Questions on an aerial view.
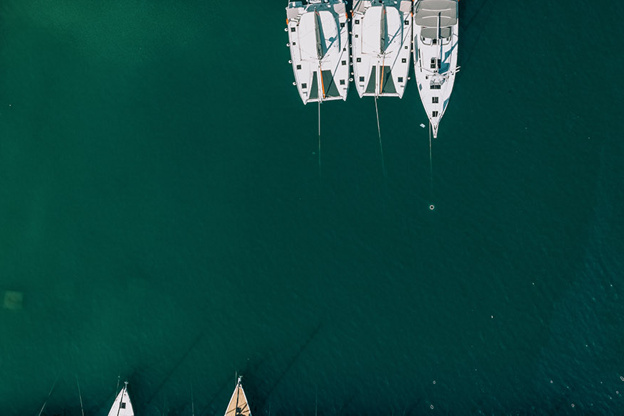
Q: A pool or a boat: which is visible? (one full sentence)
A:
Visible in the photo is a boat.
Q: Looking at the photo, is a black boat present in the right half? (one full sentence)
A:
No, no black boat appears in the right half.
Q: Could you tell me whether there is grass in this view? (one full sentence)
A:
No, grass can't be seen anywhere here.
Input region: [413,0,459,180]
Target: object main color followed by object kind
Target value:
white boat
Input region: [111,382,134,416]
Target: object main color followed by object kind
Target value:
white boat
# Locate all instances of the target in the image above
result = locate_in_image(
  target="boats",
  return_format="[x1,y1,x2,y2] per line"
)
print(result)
[348,0,413,148]
[111,382,134,416]
[227,374,252,416]
[282,0,351,115]
[413,0,459,180]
